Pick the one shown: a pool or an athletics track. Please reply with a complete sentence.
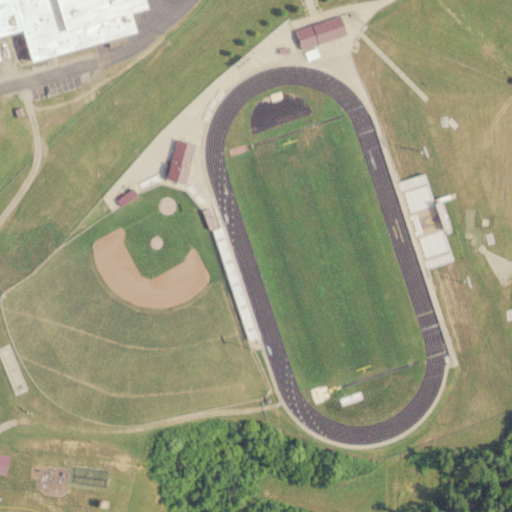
The image shows an athletics track.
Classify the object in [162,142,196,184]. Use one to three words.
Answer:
building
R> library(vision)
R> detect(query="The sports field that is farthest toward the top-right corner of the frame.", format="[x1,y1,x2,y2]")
[257,118,420,386]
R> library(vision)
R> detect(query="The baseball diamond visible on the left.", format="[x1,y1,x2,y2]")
[2,187,268,424]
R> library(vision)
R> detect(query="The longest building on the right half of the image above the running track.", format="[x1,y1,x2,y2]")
[296,16,346,52]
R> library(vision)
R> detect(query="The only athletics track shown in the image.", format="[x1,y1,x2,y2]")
[208,66,446,444]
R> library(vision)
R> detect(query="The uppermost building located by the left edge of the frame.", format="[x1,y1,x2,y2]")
[0,0,150,64]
